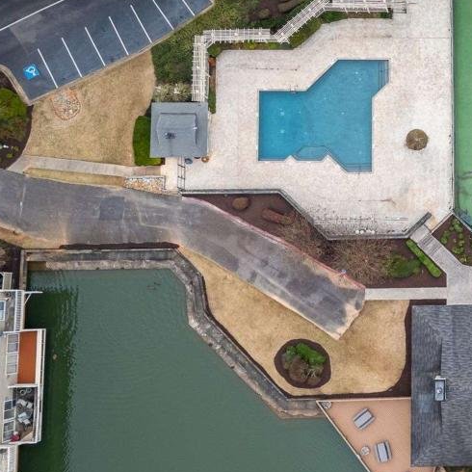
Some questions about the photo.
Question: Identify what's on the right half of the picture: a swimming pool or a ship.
swimming pool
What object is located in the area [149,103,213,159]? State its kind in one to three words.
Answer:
building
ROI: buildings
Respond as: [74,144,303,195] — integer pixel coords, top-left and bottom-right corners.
[0,289,50,472]
[410,303,472,469]
[149,103,213,159]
